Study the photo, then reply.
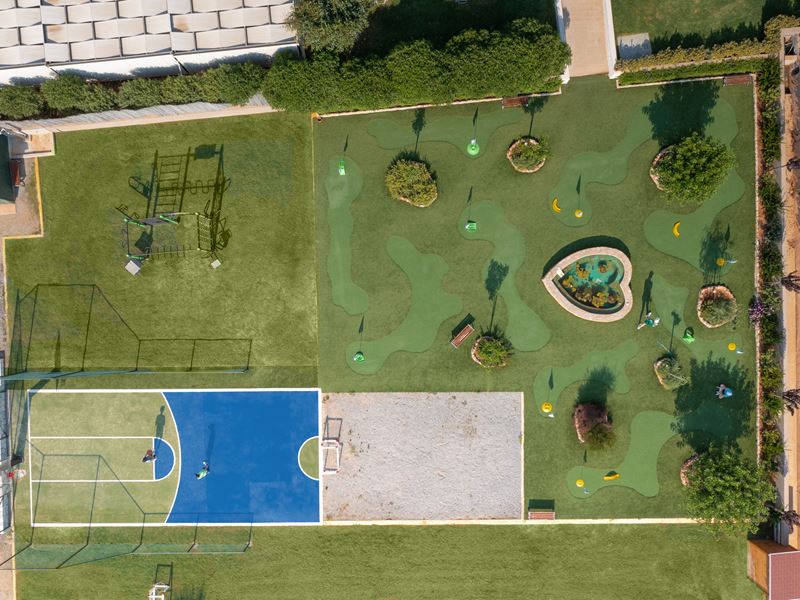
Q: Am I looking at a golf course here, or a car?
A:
golf course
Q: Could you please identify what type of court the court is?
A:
basketball court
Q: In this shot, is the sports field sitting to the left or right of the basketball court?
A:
right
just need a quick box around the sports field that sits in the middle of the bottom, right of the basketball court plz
[323,391,525,520]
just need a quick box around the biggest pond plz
[541,247,634,322]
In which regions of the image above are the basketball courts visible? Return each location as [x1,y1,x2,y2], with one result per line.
[27,388,322,526]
